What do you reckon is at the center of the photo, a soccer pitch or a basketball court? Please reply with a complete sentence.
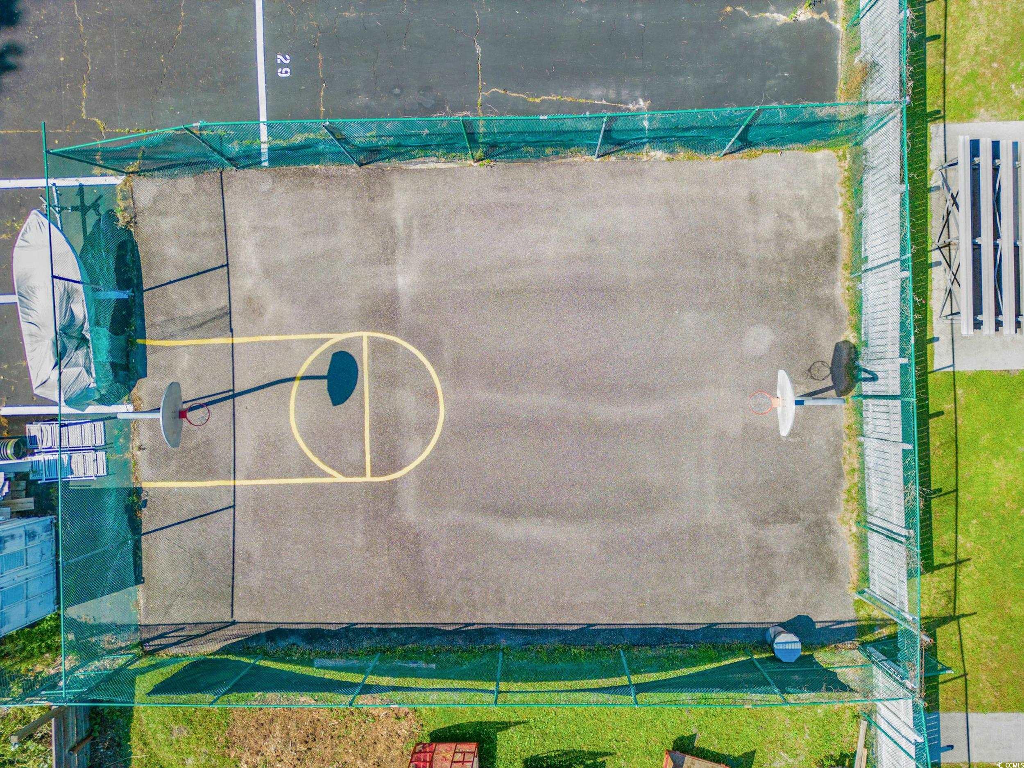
Looking at the center of the photo, you will find a basketball court.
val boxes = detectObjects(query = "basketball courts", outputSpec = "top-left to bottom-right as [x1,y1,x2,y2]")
[133,151,857,655]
